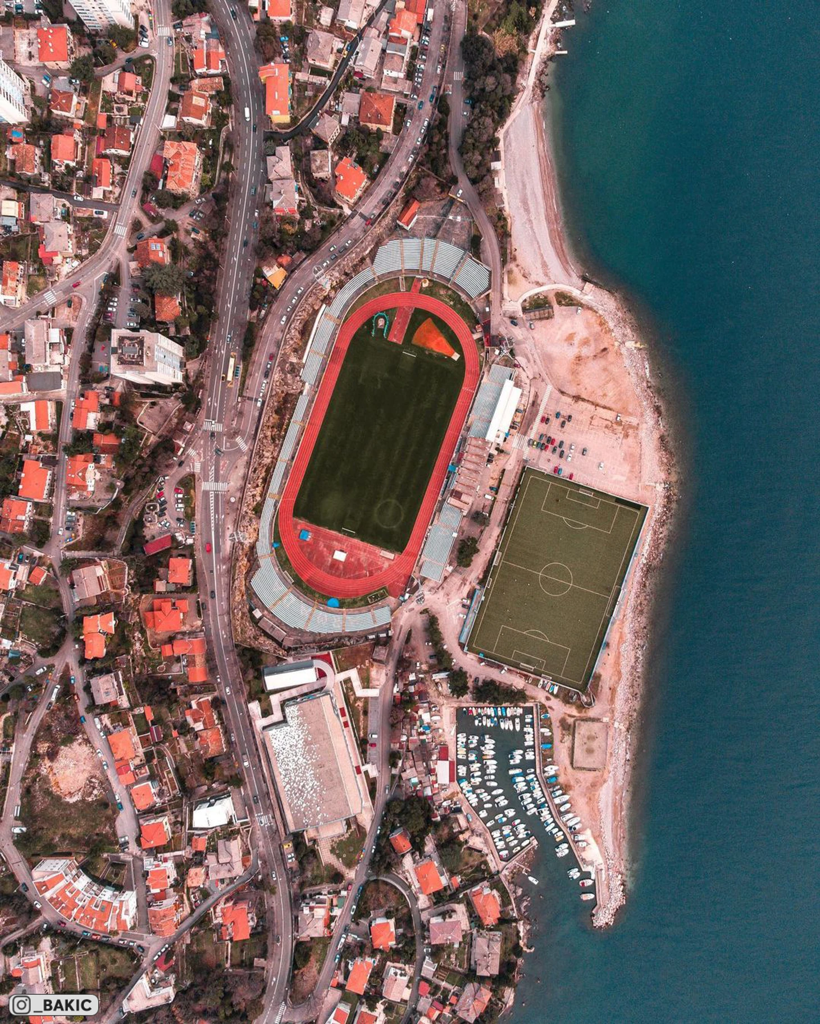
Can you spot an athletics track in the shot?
Yes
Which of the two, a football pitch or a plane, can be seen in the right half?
football pitch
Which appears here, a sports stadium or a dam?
sports stadium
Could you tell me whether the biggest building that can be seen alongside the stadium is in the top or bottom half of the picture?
bottom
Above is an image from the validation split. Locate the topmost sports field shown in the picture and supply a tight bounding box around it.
[293,308,462,554]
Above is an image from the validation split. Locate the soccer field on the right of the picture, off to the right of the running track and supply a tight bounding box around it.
[466,468,648,690]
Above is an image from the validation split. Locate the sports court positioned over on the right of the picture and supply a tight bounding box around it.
[574,721,608,770]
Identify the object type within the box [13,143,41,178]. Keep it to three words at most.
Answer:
house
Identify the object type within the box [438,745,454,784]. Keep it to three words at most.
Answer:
building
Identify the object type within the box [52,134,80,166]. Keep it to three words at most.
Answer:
house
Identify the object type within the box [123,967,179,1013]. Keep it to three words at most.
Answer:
building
